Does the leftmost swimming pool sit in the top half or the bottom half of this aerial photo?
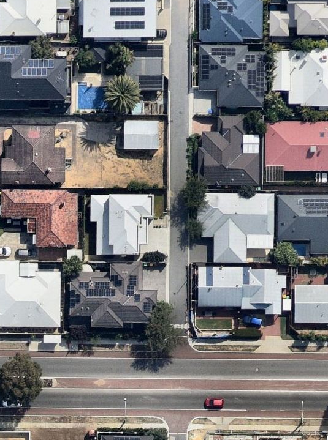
top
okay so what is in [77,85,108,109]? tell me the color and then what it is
blue swimming pool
